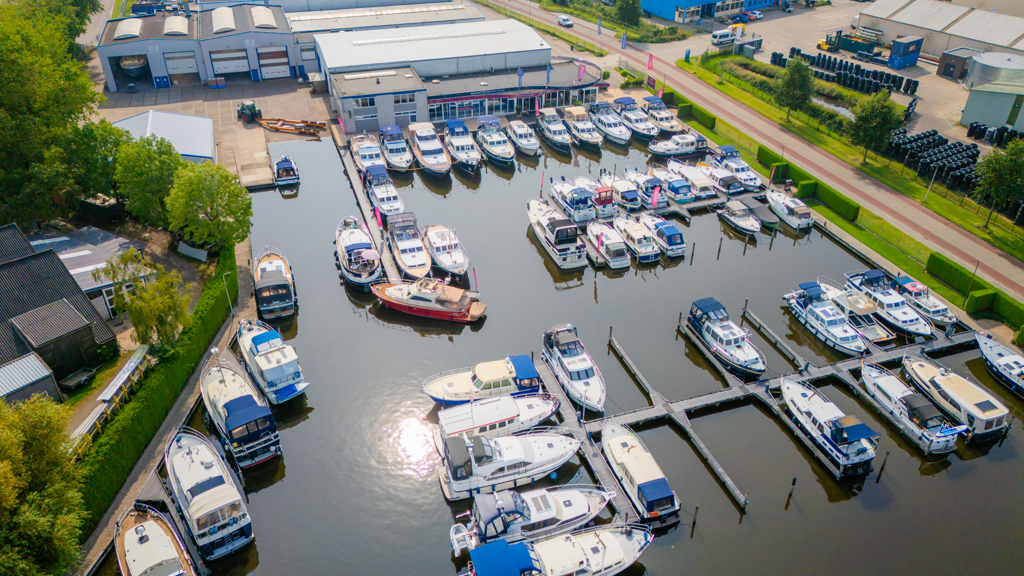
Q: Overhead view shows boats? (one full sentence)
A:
Yes, the picture does show a boat.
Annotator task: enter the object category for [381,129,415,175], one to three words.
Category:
boat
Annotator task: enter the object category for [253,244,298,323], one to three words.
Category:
boat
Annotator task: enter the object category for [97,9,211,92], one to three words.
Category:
building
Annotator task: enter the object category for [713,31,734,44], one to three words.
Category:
vehicle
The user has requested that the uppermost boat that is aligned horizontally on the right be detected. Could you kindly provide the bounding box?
[647,134,714,158]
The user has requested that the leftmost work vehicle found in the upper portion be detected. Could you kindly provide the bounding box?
[234,100,263,120]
